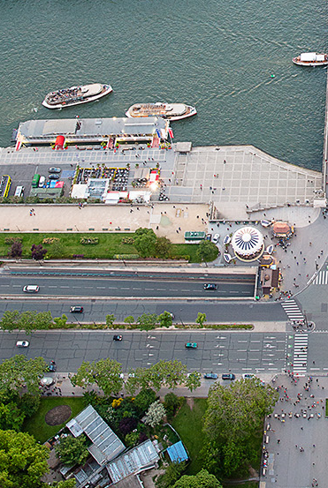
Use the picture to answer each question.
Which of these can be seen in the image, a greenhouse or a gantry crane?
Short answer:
greenhouse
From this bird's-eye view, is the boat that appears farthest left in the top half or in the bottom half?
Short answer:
top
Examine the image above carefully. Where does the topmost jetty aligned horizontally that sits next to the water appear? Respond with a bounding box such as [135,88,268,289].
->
[19,126,170,141]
